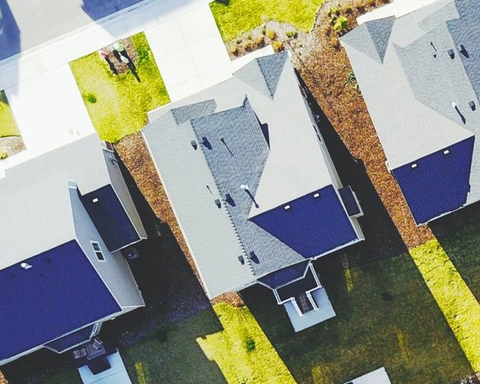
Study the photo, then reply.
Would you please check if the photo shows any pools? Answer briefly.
No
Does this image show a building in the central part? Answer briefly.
Yes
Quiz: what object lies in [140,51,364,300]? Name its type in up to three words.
house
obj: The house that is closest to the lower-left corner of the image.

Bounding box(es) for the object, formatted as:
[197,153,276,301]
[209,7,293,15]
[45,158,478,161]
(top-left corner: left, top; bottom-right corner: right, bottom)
[0,129,146,366]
